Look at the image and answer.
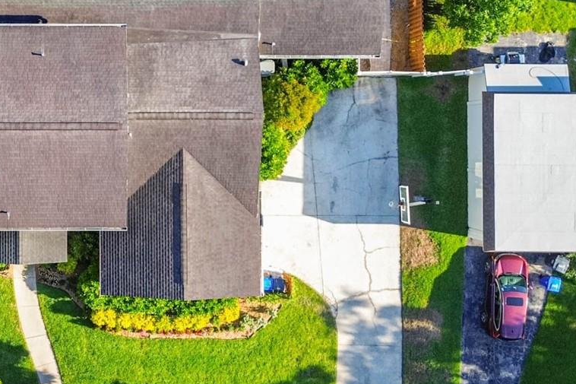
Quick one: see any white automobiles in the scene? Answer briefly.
No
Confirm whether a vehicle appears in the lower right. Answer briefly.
Yes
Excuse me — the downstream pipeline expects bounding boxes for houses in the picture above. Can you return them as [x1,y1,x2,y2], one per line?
[467,64,576,254]
[0,0,390,301]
